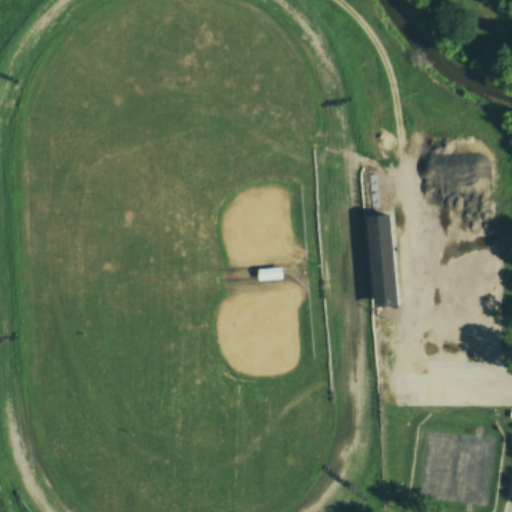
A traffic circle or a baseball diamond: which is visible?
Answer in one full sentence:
I can see a baseball diamond in this picture.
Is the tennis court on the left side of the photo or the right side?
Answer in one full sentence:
The tennis court sits on the right side.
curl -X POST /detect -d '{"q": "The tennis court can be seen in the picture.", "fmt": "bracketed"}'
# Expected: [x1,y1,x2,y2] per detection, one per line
[422,430,496,512]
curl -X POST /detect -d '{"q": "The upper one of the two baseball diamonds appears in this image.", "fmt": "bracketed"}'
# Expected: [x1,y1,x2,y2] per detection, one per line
[222,186,306,270]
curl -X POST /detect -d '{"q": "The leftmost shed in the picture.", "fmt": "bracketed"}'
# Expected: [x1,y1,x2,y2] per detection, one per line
[258,267,284,281]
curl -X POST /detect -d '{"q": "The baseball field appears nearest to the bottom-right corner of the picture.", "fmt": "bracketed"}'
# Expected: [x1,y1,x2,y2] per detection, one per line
[218,275,306,376]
